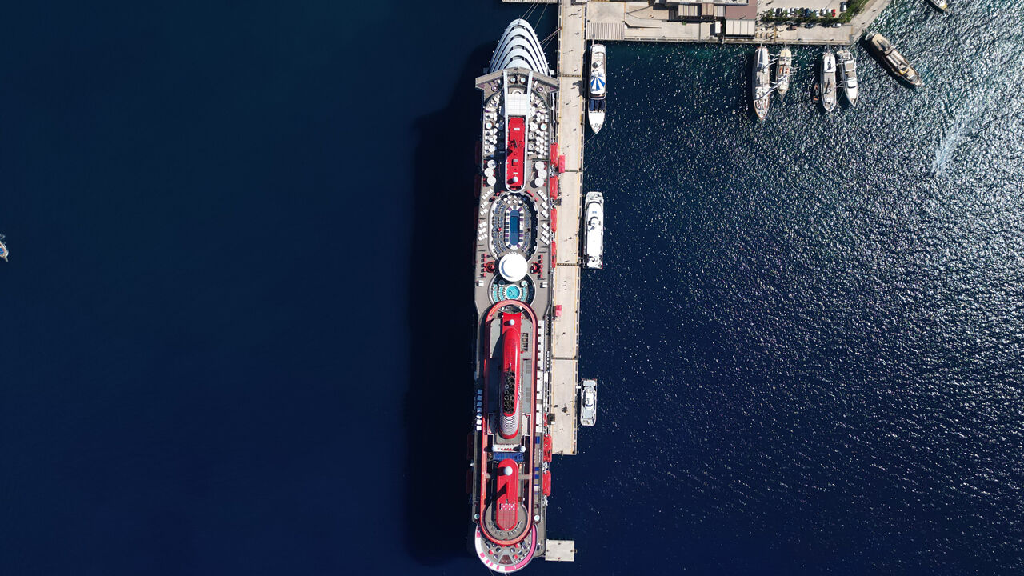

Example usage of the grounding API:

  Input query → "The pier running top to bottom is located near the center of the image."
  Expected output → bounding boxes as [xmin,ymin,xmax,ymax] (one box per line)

[549,0,588,455]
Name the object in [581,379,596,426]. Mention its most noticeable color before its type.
white boat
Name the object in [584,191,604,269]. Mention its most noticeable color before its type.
white ship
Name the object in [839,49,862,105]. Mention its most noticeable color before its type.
white boat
